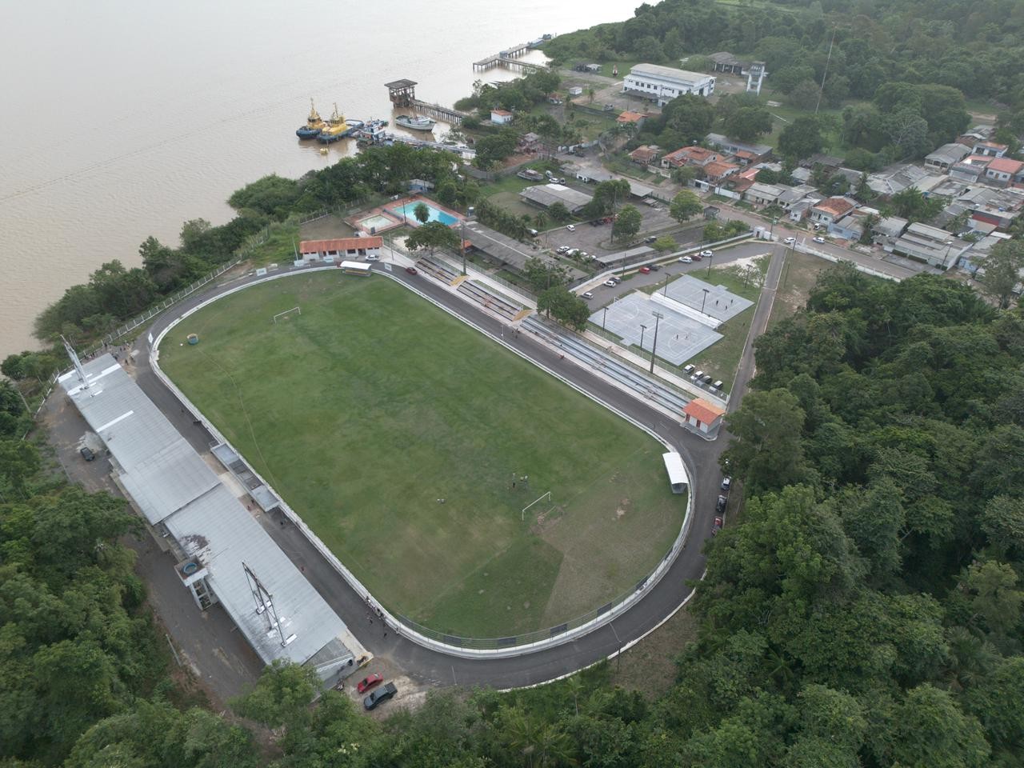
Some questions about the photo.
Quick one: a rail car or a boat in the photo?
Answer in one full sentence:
Of the two, only a boat appears.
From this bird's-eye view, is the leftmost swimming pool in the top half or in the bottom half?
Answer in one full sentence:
You can find the leftmost swimming pool in the top half.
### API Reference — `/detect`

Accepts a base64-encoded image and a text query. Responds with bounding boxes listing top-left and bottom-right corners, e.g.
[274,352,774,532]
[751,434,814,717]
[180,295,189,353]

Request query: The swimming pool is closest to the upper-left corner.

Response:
[346,210,404,234]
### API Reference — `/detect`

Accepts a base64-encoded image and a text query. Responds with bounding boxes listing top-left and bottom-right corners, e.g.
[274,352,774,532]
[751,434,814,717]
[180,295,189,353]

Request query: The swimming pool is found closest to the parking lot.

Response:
[383,195,467,235]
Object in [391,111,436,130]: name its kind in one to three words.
boat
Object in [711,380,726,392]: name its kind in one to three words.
vehicle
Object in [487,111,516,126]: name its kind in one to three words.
shed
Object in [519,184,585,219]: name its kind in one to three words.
building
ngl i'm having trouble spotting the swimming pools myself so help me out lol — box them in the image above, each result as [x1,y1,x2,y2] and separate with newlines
[383,195,467,235]
[346,210,404,234]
